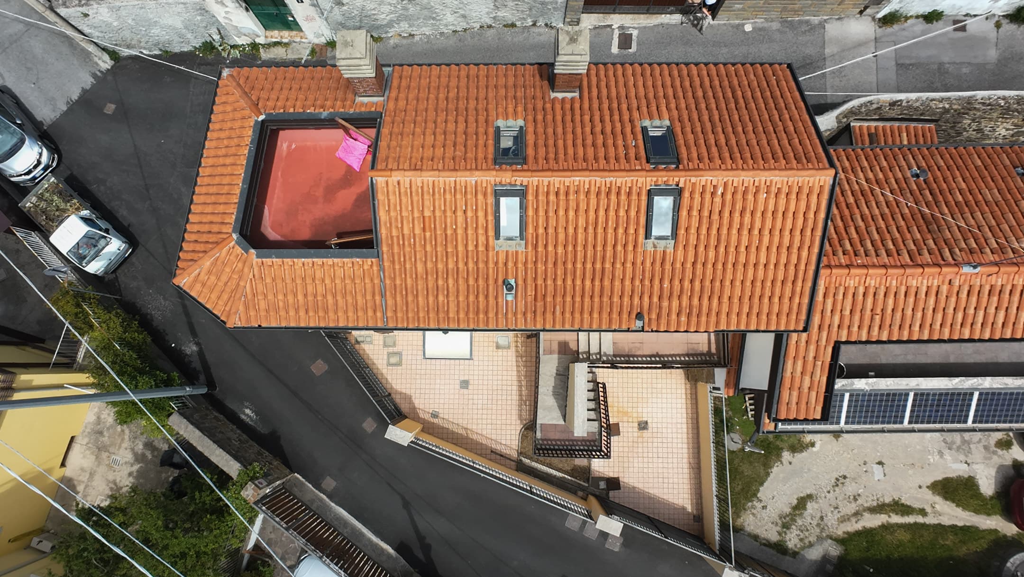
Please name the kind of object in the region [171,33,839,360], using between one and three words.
house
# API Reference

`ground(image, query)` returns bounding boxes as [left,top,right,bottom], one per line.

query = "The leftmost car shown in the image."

[0,79,62,181]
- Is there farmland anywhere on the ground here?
No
